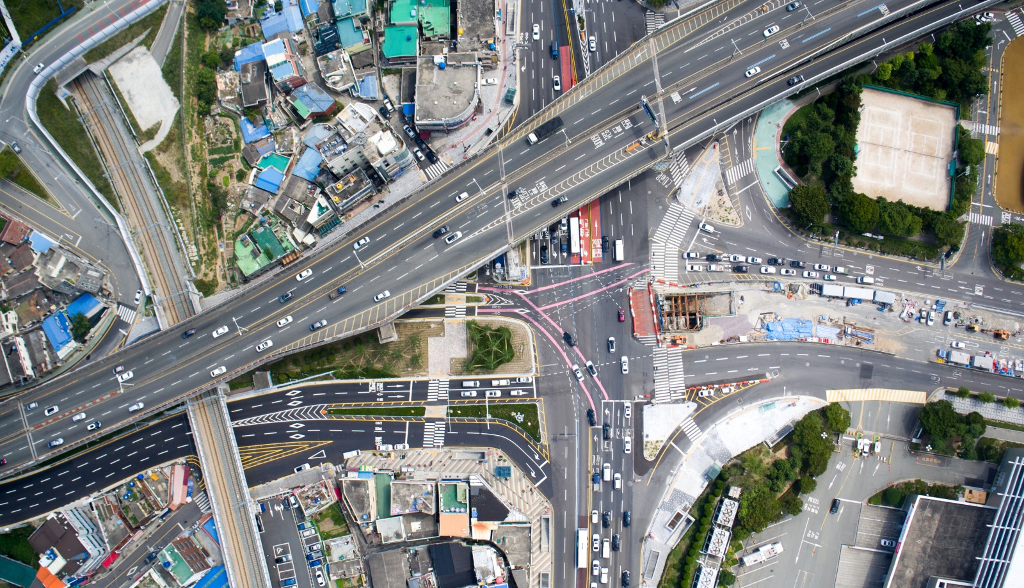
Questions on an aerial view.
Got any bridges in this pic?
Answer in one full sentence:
No, I find no bridge anywhere in the image.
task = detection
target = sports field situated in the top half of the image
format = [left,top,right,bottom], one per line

[995,35,1024,214]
